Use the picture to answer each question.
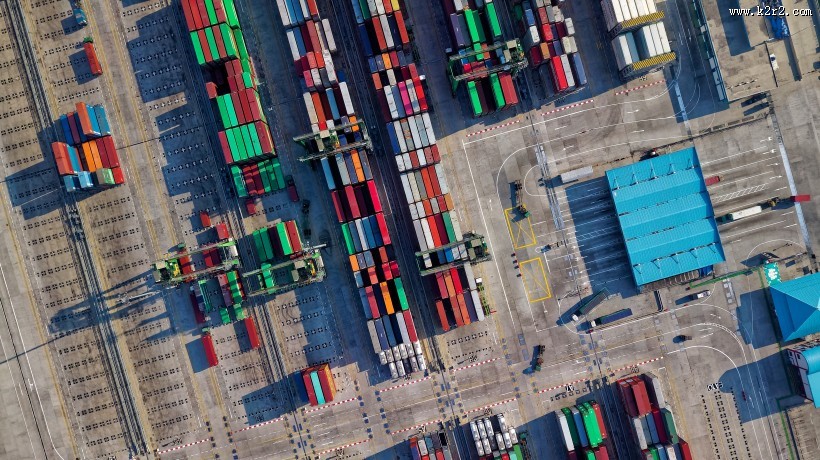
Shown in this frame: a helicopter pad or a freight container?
freight container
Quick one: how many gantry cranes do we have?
5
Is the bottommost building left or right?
right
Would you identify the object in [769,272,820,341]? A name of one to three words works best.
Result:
building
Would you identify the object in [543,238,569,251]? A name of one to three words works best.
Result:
vehicle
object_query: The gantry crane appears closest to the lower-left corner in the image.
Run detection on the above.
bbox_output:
[147,237,247,287]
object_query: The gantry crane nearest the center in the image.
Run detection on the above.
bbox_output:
[413,231,494,280]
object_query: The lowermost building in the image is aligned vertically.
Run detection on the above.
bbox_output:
[786,338,820,411]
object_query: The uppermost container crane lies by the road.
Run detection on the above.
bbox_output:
[445,34,532,98]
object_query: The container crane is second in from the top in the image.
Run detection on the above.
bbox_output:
[294,117,374,171]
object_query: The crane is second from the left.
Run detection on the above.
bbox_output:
[242,249,328,298]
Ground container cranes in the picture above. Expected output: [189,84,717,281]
[413,231,494,280]
[242,249,328,298]
[294,117,374,171]
[445,34,532,98]
[147,237,247,287]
